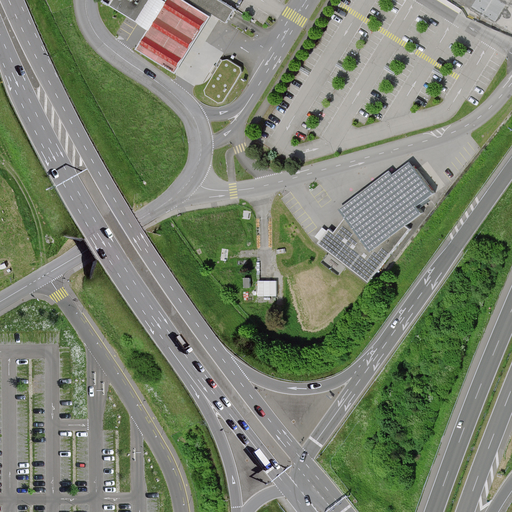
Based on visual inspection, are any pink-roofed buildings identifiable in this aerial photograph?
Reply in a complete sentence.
Yes, the frame does contain a pink-roofed building.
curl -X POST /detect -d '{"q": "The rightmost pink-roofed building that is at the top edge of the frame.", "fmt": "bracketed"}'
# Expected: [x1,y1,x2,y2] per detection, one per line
[136,0,209,72]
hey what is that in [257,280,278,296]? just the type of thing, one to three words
shed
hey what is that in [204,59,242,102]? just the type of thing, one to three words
building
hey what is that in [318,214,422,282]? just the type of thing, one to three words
building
